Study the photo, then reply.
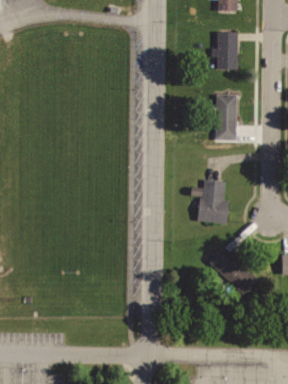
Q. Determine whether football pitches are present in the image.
Yes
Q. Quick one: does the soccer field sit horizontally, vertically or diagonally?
vertically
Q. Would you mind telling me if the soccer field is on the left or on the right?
left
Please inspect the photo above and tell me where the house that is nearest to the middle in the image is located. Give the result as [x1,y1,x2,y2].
[198,181,229,224]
